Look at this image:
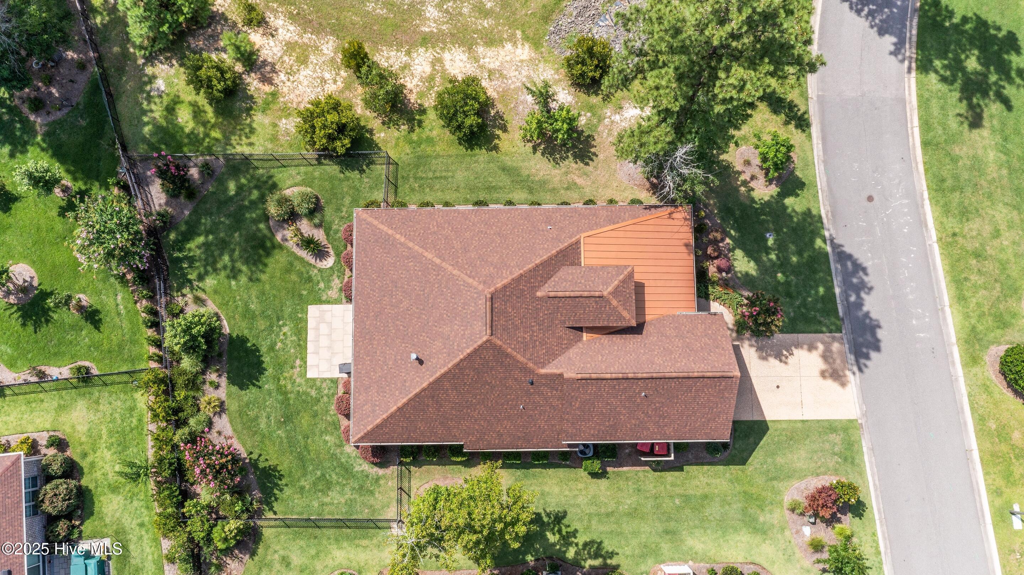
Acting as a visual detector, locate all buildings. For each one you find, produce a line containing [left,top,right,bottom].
[0,450,51,575]
[349,203,739,452]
